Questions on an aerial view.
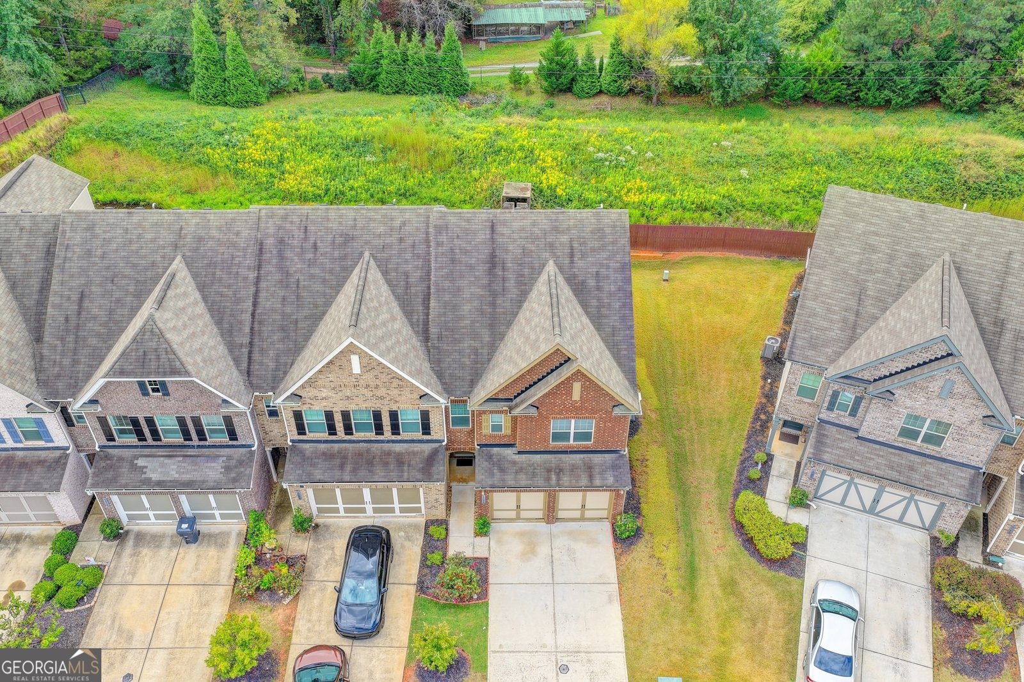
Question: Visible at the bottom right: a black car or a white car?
white car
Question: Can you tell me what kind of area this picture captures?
residential area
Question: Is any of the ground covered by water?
No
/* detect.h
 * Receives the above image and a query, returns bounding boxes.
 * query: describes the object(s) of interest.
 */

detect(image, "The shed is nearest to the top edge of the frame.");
[471,4,587,38]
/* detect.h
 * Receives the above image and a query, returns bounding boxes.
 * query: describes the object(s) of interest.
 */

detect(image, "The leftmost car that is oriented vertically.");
[332,523,392,637]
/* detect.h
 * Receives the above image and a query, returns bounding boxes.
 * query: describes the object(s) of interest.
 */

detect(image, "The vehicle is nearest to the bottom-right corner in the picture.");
[804,581,867,682]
